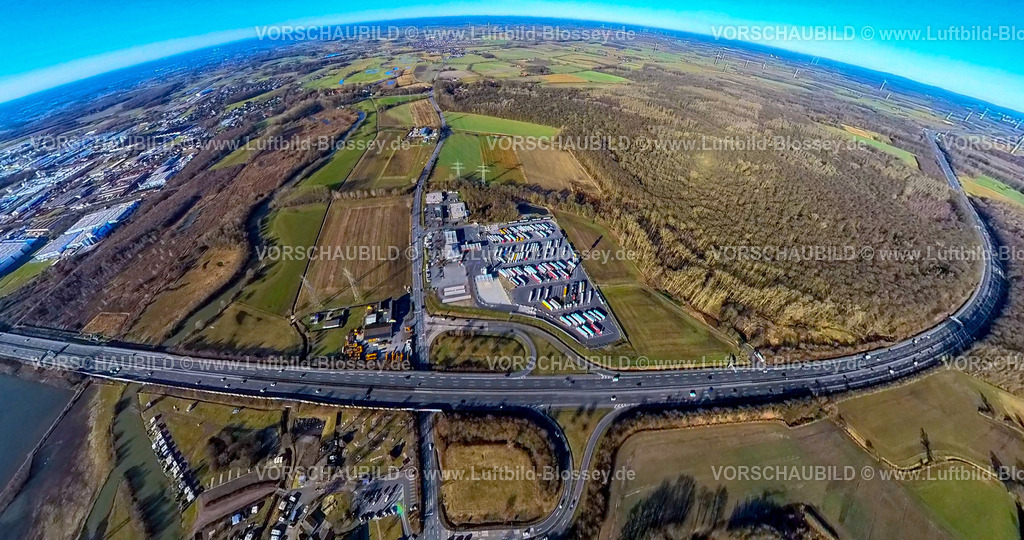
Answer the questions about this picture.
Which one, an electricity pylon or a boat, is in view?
electricity pylon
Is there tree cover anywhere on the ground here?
Yes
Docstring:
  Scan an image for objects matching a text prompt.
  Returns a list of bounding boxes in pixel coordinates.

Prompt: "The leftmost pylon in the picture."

[301,273,322,307]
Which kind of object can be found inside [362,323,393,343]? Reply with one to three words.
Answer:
barn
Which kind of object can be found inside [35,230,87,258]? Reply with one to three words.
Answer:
building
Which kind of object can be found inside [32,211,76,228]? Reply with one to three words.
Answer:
building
